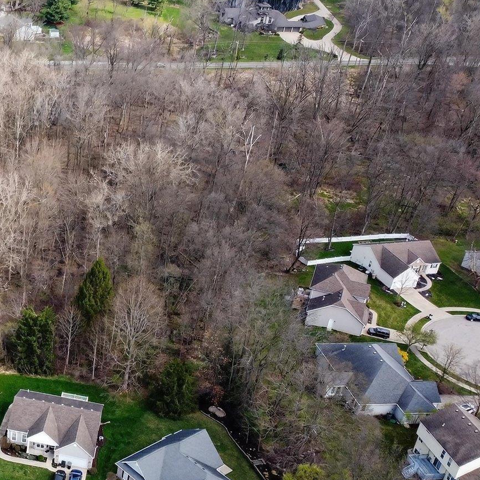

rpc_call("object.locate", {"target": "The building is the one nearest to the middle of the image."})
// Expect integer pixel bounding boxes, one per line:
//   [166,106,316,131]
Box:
[304,263,375,336]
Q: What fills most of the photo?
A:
trees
